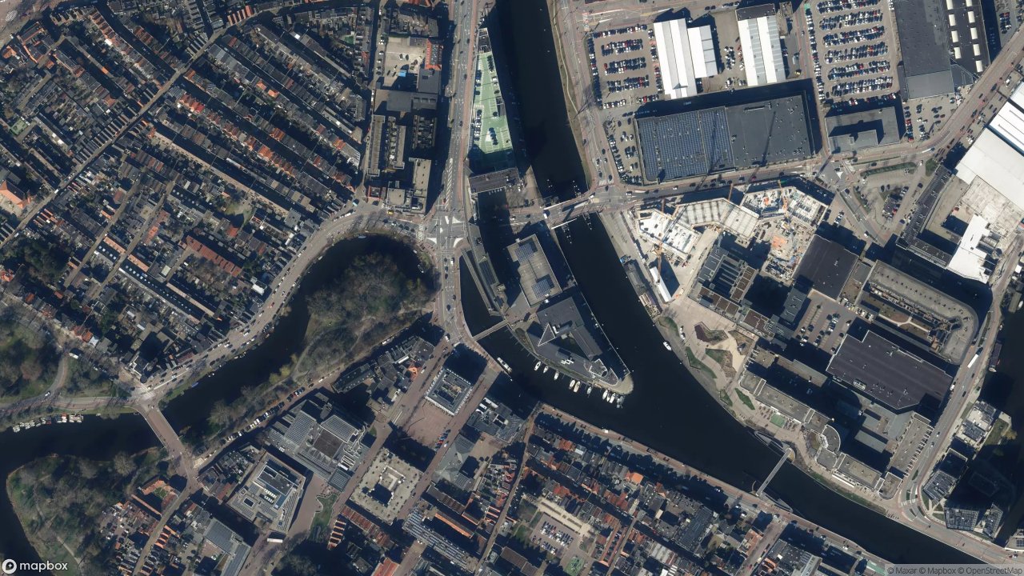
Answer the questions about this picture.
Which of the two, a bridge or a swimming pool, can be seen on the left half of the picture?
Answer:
bridge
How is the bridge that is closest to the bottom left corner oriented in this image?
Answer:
on a diagonal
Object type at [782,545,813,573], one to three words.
building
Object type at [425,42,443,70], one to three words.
building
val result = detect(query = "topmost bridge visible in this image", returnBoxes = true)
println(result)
[542,189,597,229]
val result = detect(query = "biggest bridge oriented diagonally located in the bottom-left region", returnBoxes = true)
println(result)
[134,395,193,466]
